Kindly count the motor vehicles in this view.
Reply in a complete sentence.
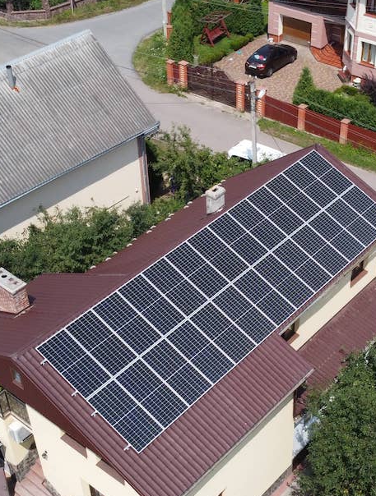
The number of motor vehicles here is 2.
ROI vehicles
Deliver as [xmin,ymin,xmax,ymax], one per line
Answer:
[220,140,289,169]
[241,37,300,74]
